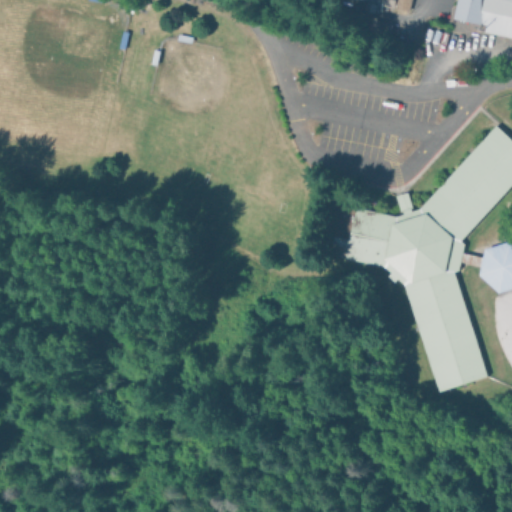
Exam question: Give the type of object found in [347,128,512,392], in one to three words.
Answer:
building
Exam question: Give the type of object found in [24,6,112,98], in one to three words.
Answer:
baseball field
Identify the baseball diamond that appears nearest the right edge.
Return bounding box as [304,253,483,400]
[156,40,230,112]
